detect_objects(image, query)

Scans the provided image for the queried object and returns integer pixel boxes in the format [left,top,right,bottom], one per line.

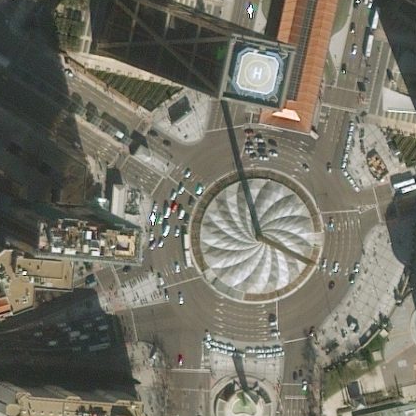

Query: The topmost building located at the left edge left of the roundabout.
[0,108,85,205]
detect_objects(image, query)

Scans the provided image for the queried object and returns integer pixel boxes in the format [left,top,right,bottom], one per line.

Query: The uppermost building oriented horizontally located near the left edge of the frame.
[0,201,142,265]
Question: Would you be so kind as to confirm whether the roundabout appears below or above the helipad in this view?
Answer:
below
